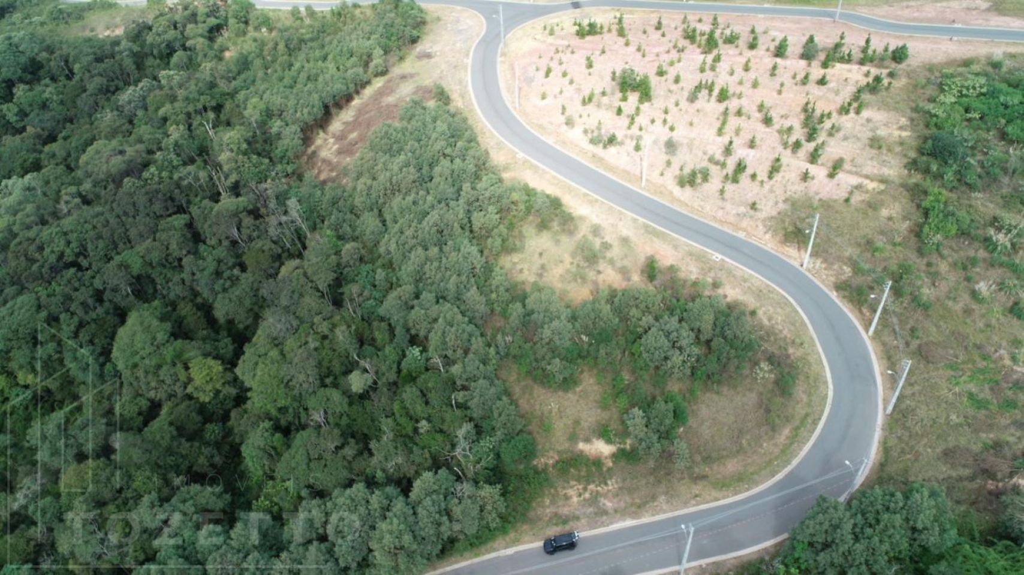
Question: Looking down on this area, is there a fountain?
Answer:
No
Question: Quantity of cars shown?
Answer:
1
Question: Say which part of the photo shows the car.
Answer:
bottom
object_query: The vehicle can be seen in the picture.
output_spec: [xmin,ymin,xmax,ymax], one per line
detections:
[542,529,581,557]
